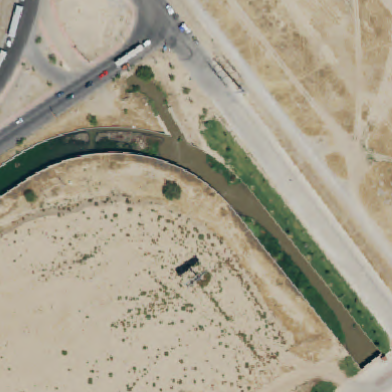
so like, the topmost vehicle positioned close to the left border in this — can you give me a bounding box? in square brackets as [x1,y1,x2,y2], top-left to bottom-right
[4,4,22,48]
